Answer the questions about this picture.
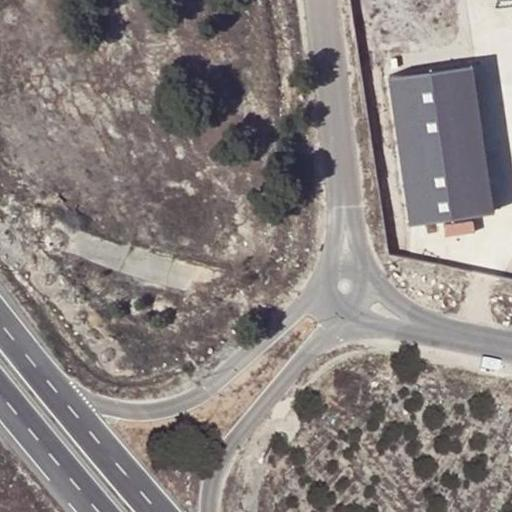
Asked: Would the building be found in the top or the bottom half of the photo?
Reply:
top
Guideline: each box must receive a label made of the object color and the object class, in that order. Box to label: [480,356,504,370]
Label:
white vehicle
